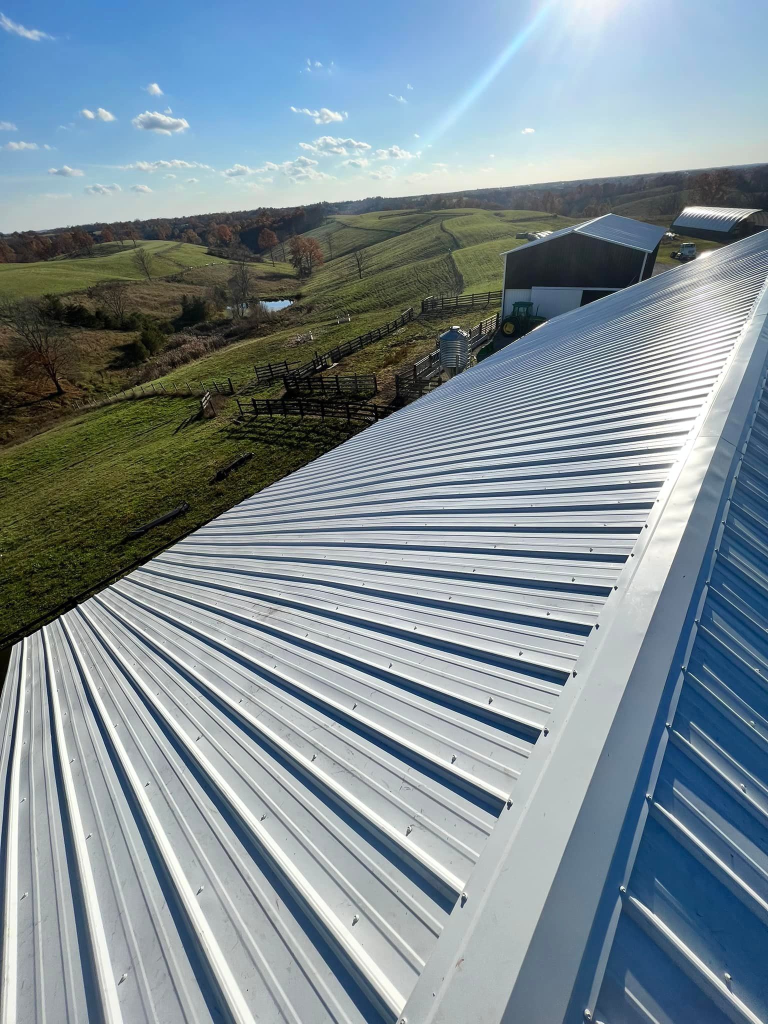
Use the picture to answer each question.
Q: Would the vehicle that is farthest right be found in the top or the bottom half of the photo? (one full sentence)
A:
The vehicle that is farthest right sits in the top half of the picture.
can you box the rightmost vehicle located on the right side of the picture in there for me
[673,240,705,260]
